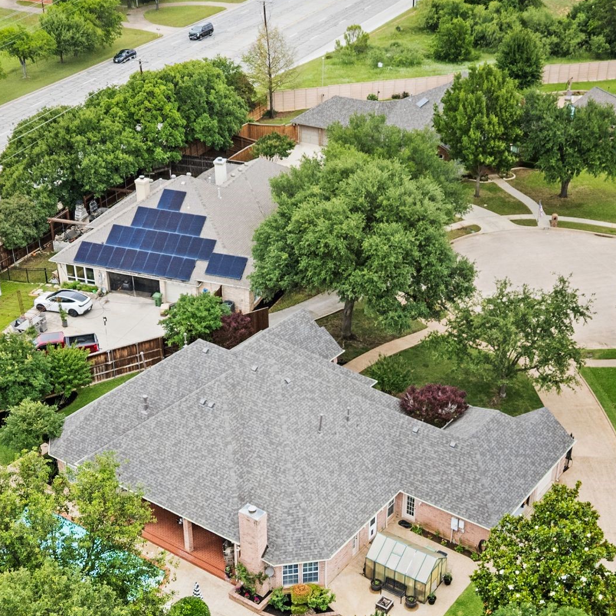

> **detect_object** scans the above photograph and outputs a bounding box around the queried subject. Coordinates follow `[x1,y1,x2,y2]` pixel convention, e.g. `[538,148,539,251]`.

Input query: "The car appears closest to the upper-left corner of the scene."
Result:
[109,47,137,63]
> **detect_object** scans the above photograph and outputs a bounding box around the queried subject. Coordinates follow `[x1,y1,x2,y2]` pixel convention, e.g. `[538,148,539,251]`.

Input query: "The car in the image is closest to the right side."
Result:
[186,19,215,39]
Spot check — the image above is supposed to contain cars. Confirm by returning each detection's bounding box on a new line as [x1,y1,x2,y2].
[33,287,93,316]
[186,19,215,39]
[109,47,137,63]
